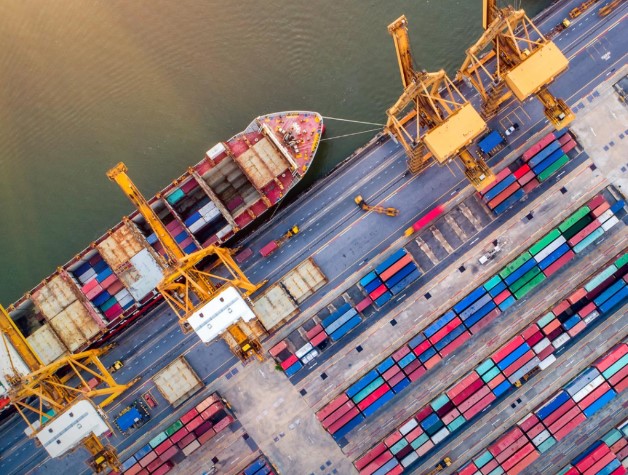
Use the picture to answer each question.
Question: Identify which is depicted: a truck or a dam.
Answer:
truck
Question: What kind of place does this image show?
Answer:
port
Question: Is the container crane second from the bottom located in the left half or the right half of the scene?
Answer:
left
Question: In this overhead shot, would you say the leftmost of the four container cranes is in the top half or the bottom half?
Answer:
bottom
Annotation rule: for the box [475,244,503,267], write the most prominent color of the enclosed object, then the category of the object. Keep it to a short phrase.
white truck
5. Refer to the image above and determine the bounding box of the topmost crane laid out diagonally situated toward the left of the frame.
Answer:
[113,164,272,367]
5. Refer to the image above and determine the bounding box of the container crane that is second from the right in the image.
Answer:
[373,17,499,192]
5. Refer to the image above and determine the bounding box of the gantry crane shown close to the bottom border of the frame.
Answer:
[0,290,142,475]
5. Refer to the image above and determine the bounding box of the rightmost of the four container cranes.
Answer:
[444,0,581,129]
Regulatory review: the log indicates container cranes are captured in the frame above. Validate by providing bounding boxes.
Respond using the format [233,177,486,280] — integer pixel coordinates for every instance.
[0,290,142,475]
[113,164,272,367]
[444,0,581,129]
[373,17,499,192]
